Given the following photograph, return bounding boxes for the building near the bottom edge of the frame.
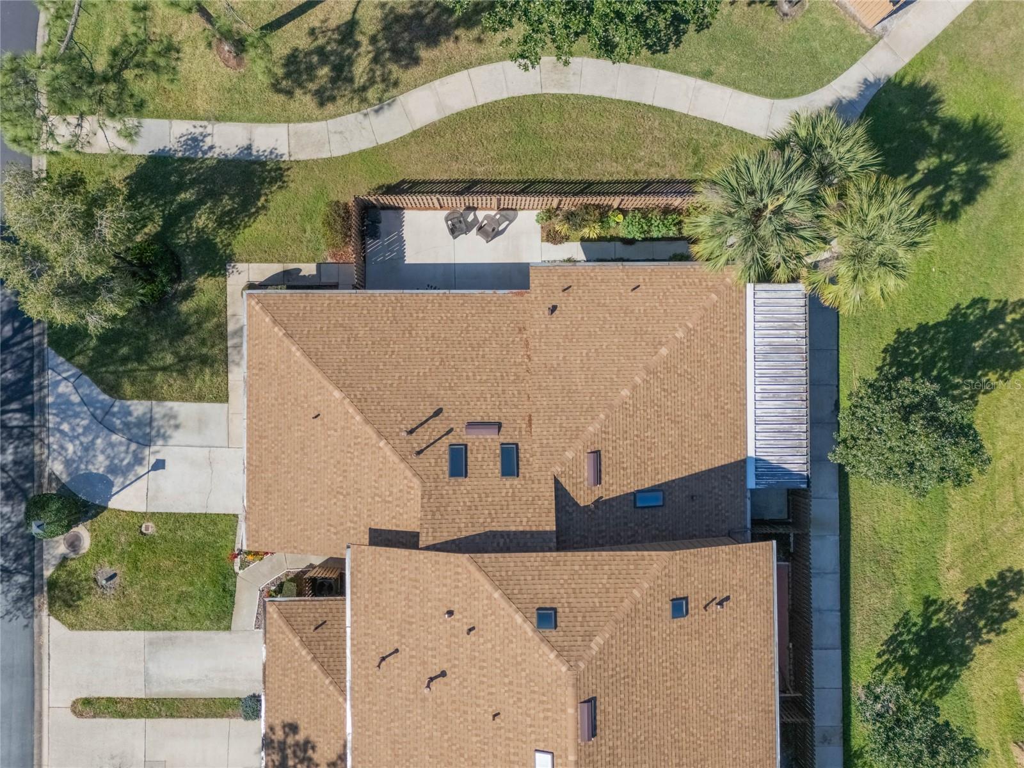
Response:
[261,539,780,768]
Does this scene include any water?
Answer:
No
